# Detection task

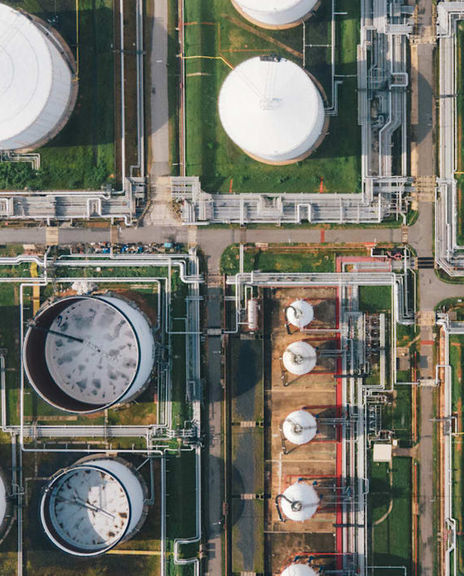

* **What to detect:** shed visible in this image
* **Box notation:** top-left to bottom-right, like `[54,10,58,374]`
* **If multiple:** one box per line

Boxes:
[372,445,391,463]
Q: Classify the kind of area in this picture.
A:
industrial area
